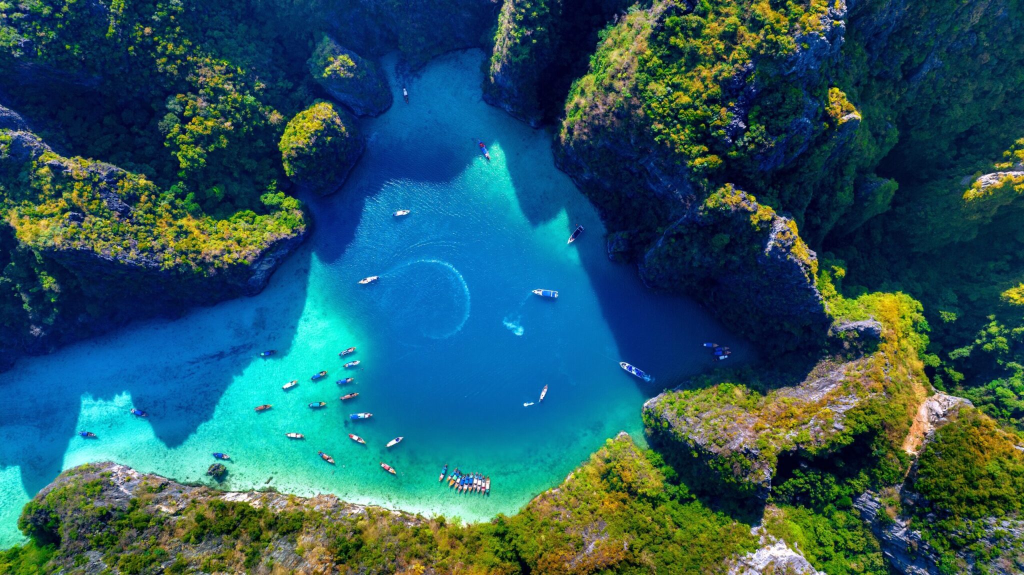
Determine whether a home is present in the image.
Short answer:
No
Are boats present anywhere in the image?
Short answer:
Yes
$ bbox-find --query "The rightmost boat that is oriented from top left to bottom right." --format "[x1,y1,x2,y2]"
[620,362,650,382]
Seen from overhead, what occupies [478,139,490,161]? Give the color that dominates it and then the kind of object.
blue boat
